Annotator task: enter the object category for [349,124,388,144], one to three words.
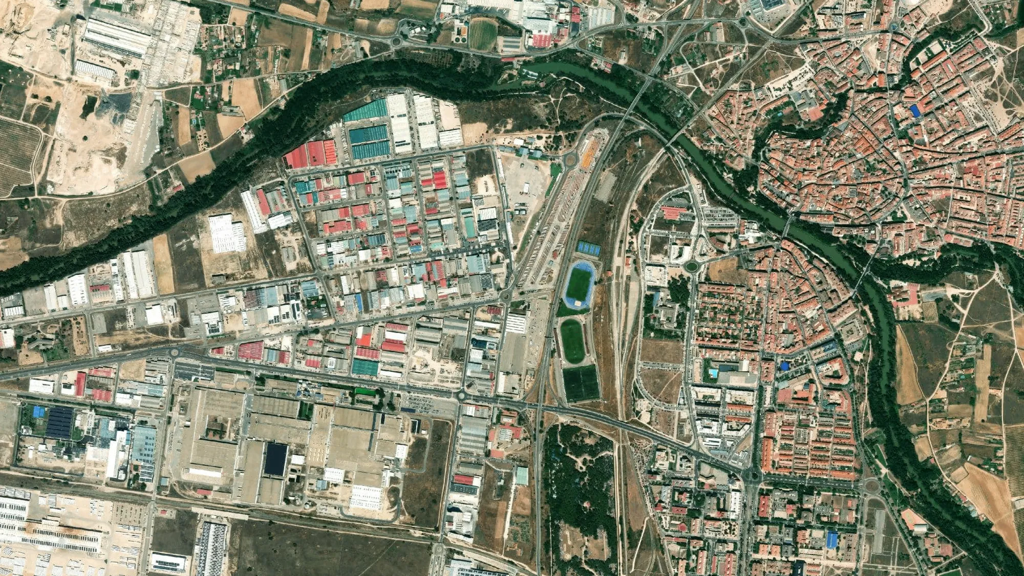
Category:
building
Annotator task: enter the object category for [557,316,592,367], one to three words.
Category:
sports field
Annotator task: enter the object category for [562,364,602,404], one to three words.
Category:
sports field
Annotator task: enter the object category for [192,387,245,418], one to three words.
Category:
building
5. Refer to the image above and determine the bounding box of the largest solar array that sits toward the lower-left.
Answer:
[46,408,73,437]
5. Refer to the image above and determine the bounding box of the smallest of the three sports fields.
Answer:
[567,267,592,300]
